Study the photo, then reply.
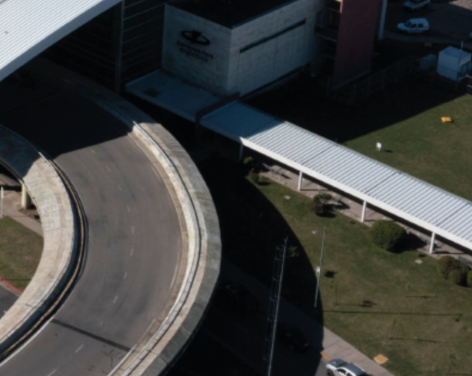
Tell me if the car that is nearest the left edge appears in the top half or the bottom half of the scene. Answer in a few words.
bottom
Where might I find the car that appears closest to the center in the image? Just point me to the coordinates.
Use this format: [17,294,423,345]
[218,261,261,303]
